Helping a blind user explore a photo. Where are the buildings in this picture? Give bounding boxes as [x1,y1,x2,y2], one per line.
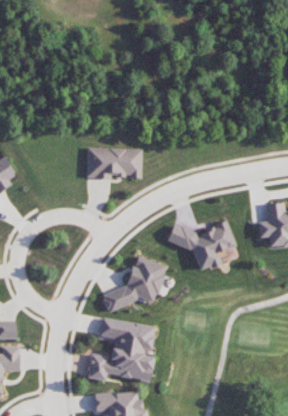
[0,158,16,192]
[260,202,288,250]
[0,323,18,340]
[88,148,144,180]
[0,347,20,382]
[103,256,172,314]
[89,316,162,386]
[170,225,238,270]
[90,392,148,416]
